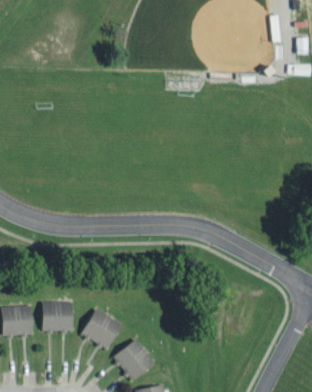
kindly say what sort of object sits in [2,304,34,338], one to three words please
house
